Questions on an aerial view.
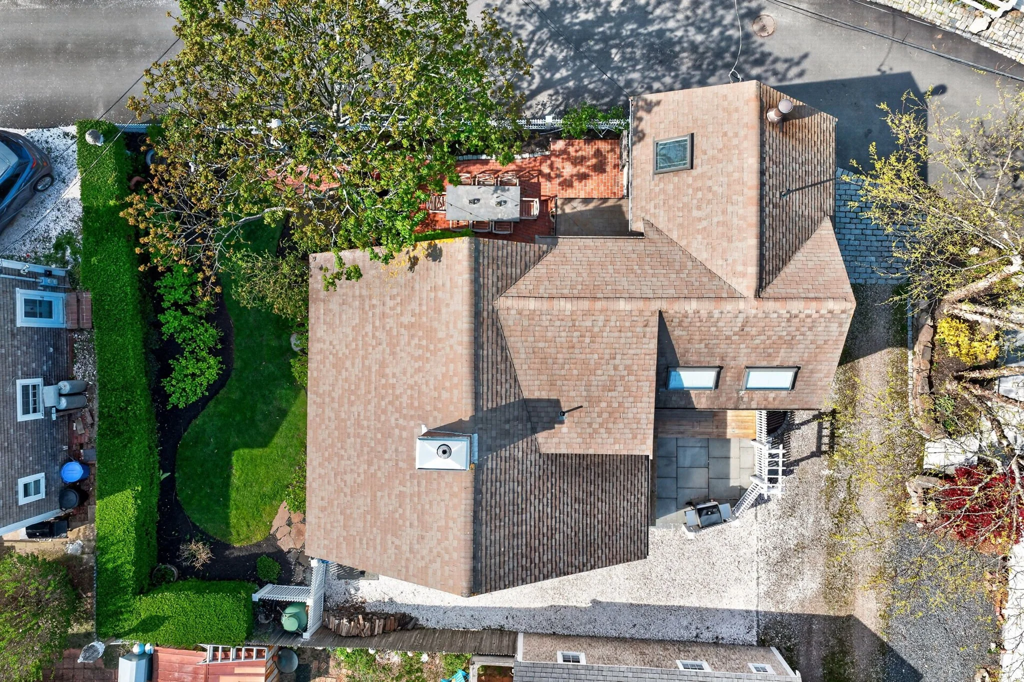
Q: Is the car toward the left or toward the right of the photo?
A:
left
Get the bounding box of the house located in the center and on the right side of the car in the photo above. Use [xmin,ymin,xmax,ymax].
[305,69,865,597]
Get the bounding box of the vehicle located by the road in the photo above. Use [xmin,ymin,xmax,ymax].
[0,130,58,244]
